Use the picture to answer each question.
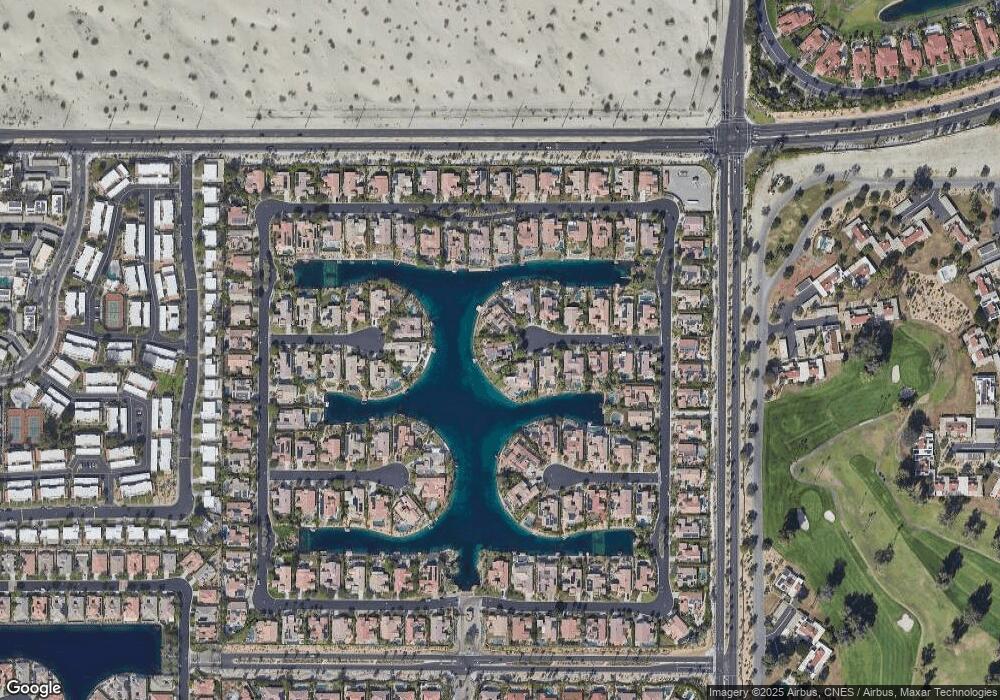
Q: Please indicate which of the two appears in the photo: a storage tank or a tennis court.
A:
tennis court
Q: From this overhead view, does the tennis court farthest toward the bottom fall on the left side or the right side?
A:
left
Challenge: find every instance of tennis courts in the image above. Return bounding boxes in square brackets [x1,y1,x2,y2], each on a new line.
[7,408,45,444]
[104,293,124,331]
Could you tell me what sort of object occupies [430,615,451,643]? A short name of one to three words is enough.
house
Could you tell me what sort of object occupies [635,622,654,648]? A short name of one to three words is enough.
house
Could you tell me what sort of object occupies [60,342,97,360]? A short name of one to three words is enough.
building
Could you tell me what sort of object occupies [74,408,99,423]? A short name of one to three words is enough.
building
